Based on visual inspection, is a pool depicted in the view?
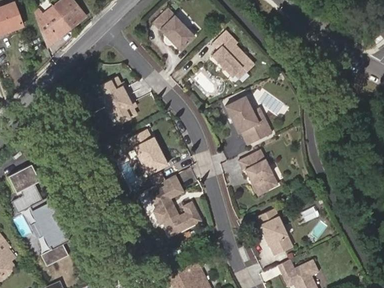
Yes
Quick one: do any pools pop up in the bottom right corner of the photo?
Yes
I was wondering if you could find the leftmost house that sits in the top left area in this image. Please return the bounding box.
[0,1,24,35]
